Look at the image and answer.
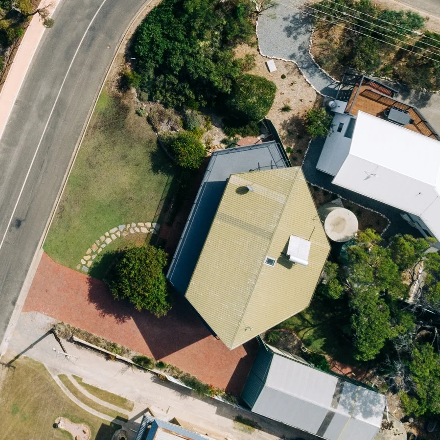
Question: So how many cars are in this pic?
0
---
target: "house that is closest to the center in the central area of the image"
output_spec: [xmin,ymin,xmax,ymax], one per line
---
[159,136,331,350]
